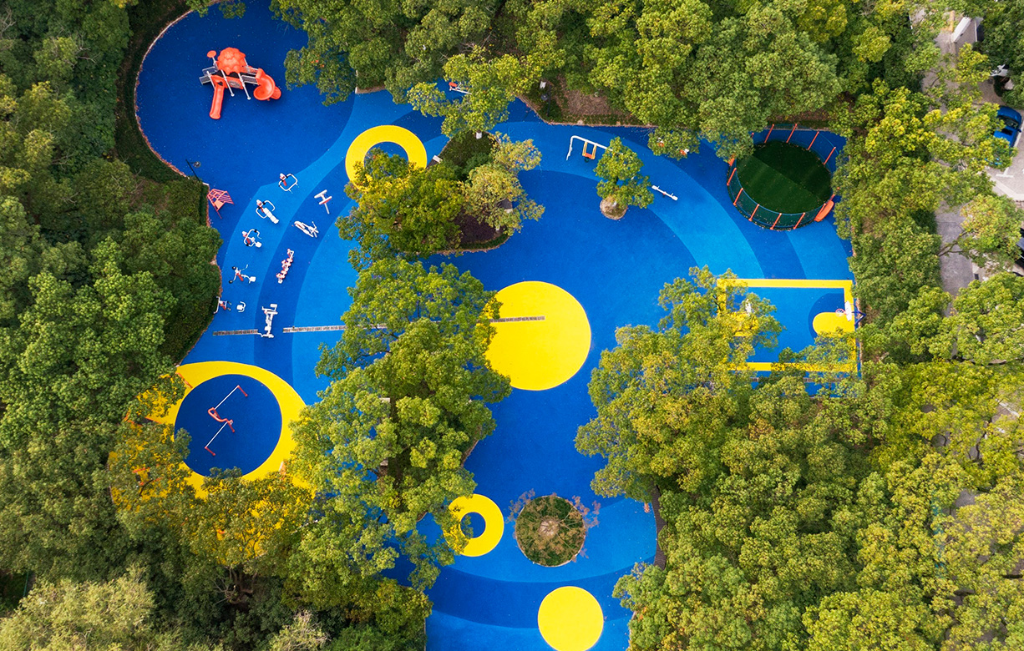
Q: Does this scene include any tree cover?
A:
Yes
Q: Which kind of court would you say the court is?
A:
basketball court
